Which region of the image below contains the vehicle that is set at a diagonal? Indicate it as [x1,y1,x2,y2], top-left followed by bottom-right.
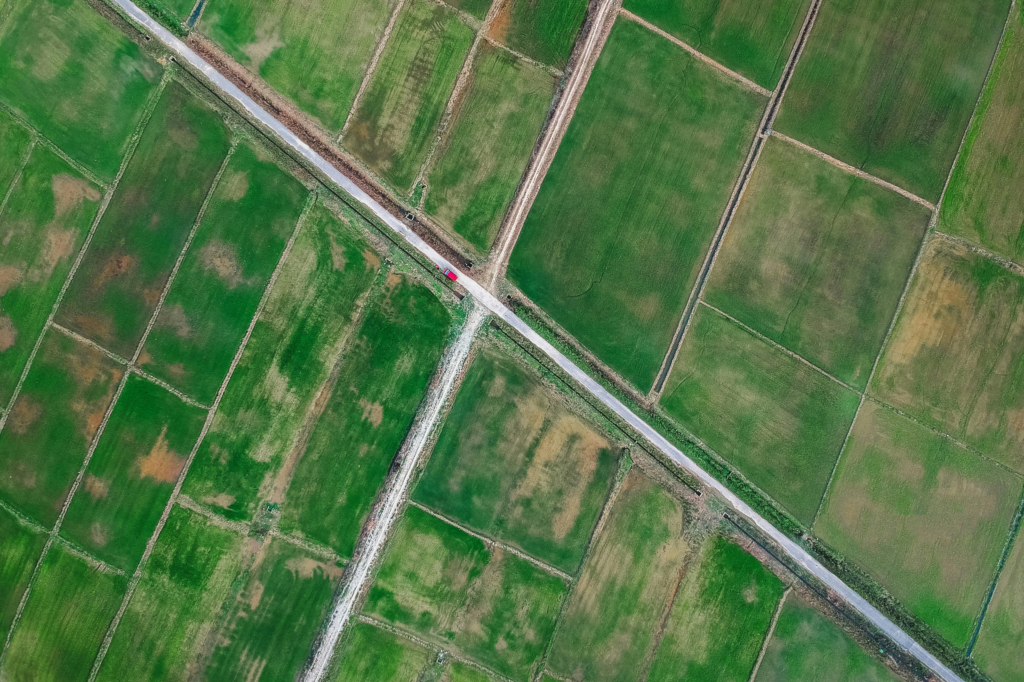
[442,267,458,281]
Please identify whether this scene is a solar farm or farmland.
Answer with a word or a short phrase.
farmland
